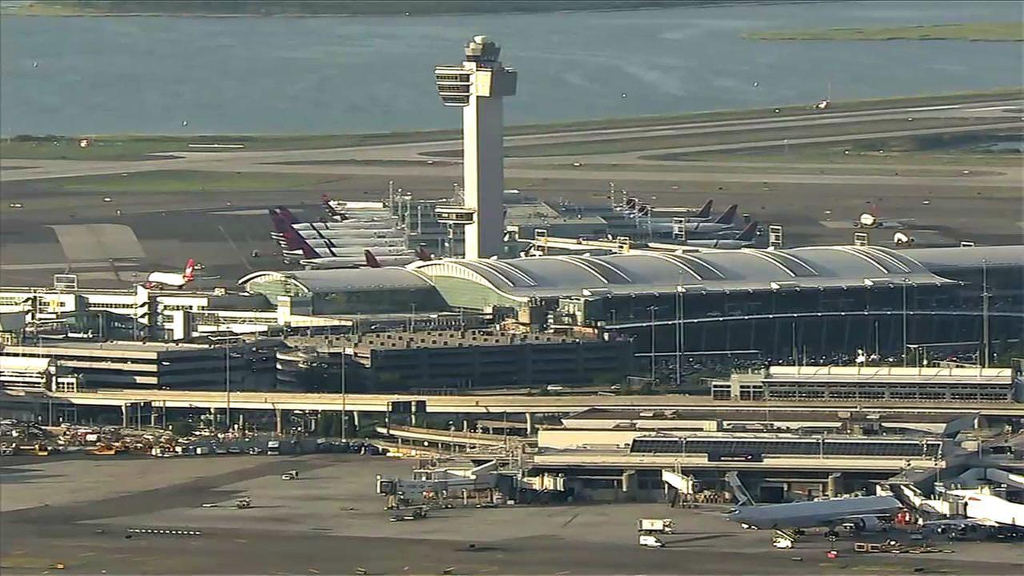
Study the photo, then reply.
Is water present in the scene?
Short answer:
Yes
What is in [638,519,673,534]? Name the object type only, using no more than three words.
vehicle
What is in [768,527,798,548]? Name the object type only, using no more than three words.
work vehicle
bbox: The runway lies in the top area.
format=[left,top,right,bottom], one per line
[141,99,1024,155]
